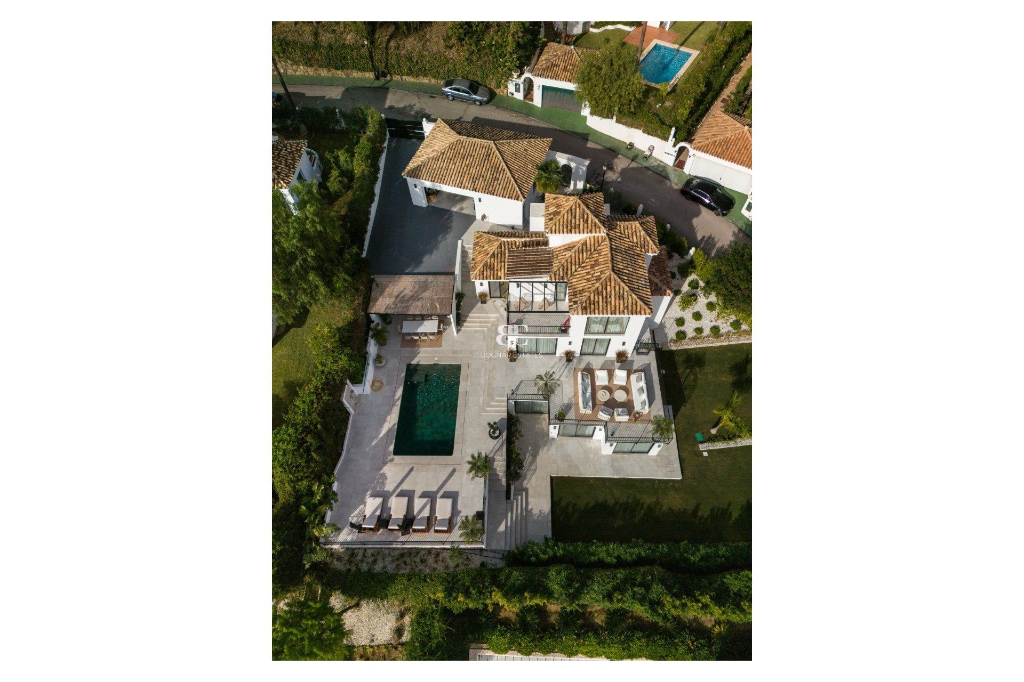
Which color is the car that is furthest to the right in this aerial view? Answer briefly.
black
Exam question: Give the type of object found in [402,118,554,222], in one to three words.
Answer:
building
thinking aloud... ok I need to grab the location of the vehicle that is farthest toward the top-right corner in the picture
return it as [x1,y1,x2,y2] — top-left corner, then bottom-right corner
[677,176,739,216]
